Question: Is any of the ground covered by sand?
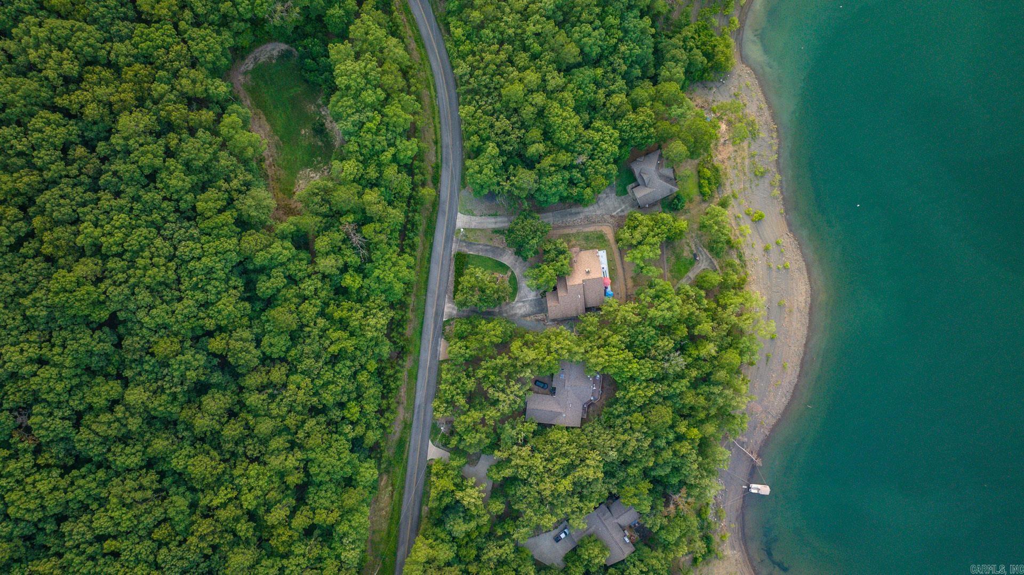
Yes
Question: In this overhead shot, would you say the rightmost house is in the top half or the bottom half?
top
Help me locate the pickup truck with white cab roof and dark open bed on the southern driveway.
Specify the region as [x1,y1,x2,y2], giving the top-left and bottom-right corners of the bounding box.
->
[553,528,571,545]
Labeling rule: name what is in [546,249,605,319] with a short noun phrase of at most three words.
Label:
house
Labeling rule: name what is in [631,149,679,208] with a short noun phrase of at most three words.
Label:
house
